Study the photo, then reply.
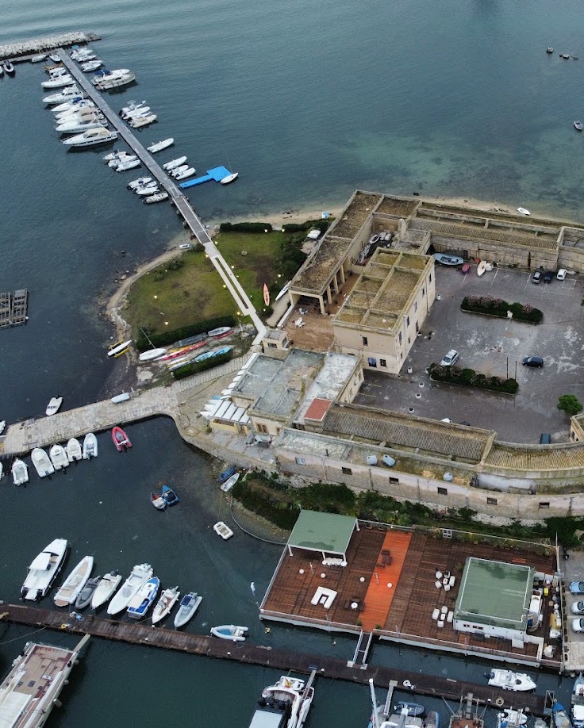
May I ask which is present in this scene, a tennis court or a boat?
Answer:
boat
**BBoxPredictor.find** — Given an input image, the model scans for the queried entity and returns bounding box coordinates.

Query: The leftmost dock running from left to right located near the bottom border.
[0,603,557,716]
